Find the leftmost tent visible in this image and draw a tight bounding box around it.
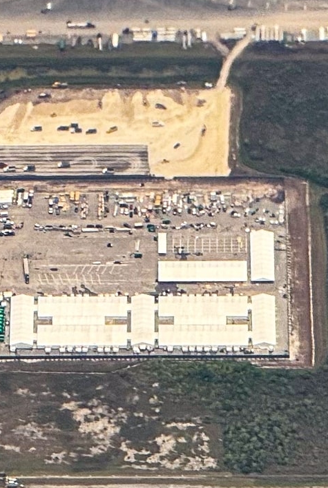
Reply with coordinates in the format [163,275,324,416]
[11,294,35,349]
